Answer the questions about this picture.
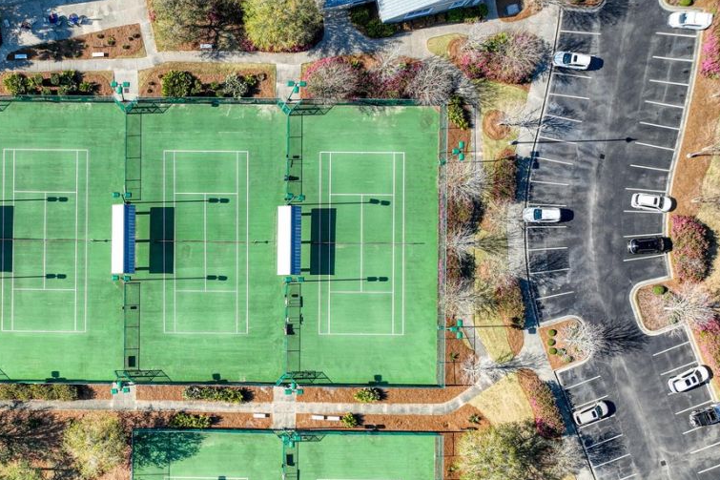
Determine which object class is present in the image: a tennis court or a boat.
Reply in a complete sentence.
Of the two, only a tennis court appears.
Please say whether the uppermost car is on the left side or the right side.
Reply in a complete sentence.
The uppermost car sits on the right side.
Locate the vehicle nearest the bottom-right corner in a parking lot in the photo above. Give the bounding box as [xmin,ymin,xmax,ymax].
[685,403,720,426]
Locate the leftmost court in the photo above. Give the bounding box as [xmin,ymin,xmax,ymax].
[0,102,125,382]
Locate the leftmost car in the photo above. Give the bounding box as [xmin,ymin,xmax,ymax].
[522,206,561,224]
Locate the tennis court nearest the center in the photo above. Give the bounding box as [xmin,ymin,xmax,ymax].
[285,104,438,384]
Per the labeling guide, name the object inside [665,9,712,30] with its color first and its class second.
white car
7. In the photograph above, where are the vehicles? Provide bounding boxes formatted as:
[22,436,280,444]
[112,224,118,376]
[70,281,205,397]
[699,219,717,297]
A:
[665,9,712,30]
[625,235,664,253]
[569,399,608,425]
[685,403,720,426]
[522,206,561,224]
[628,194,670,211]
[551,49,591,70]
[665,366,708,393]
